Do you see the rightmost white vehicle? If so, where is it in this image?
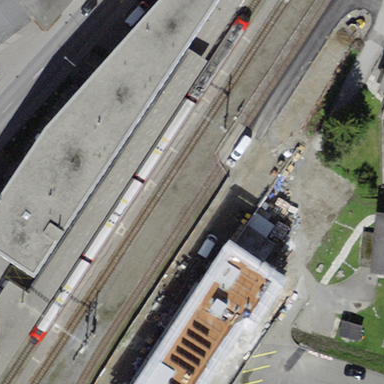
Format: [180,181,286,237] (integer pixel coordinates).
[230,136,250,162]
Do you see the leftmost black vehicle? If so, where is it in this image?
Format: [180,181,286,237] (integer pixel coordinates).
[80,0,96,15]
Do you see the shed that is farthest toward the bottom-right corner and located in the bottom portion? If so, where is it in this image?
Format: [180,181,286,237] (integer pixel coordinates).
[338,322,364,344]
